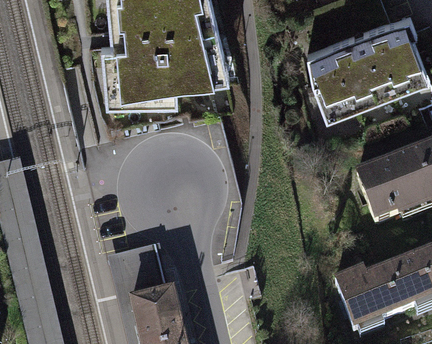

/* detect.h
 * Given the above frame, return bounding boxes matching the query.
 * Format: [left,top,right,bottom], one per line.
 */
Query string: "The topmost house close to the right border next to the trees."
[307,17,431,131]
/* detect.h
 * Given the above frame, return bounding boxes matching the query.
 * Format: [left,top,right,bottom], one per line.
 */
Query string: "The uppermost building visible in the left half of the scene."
[102,0,237,115]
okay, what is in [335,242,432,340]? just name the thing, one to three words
house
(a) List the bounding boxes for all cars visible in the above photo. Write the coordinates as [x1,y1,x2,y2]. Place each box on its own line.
[95,202,118,215]
[102,225,125,237]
